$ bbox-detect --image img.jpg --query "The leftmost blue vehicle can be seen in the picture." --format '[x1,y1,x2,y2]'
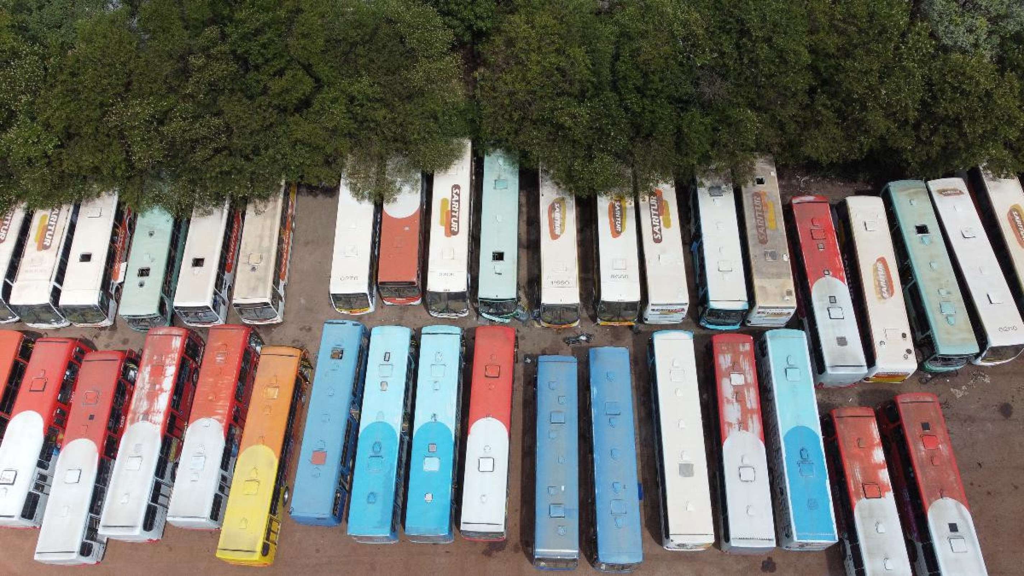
[290,323,371,529]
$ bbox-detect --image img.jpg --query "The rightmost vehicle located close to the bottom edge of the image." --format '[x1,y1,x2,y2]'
[876,395,986,576]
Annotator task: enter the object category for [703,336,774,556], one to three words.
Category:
bus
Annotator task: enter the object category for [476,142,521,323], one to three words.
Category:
bus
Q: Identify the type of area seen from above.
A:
parking lot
